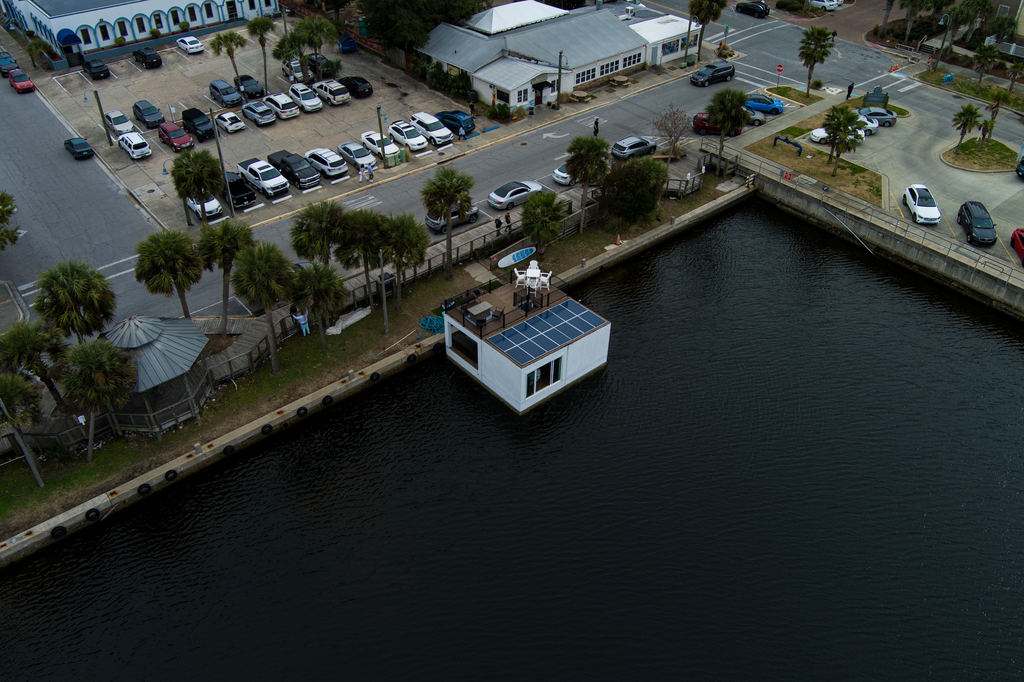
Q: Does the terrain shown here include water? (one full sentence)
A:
Yes, there is water in the image.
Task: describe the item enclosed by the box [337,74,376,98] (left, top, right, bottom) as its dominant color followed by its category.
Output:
black car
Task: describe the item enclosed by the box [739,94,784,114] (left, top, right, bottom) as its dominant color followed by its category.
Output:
blue car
